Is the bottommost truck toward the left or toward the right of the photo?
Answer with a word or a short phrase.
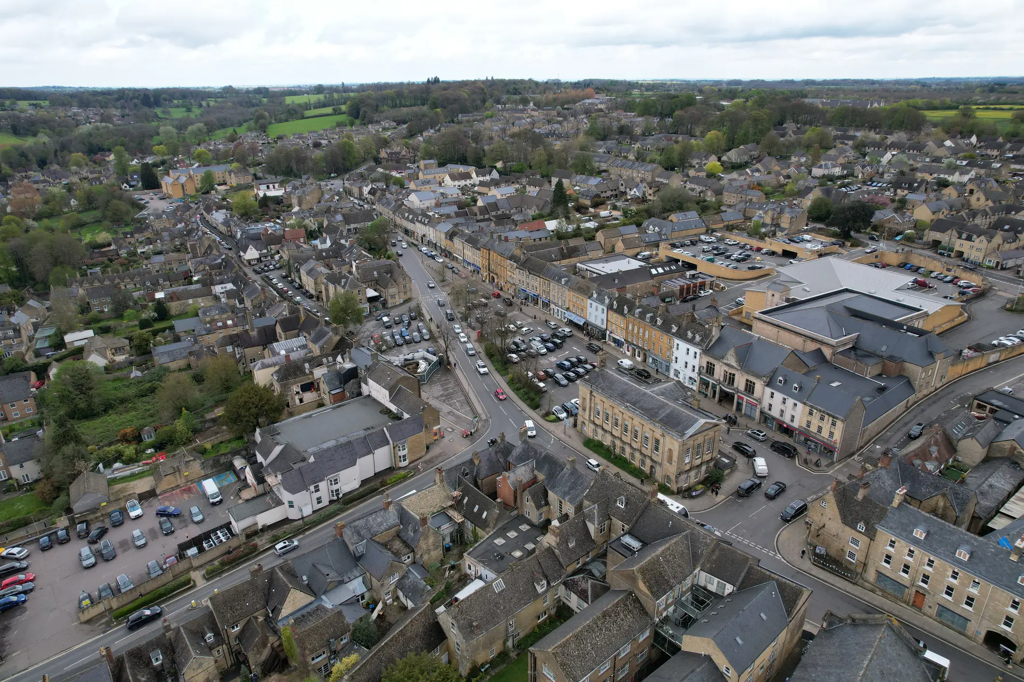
right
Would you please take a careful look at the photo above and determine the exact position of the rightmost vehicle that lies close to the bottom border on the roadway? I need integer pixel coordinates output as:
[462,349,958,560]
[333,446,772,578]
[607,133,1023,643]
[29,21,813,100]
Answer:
[914,646,966,682]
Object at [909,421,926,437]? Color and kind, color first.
gray car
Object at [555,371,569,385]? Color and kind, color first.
gray car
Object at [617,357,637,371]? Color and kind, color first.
white vehicle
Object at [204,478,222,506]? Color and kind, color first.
white vehicle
